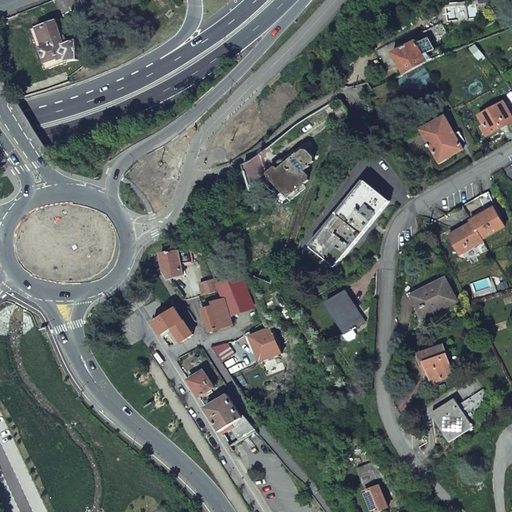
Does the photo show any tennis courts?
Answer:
No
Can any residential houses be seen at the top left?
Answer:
Yes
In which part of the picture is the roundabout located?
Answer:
left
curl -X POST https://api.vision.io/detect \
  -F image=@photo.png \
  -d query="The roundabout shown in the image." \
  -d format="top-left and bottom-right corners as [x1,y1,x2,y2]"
[0,171,136,302]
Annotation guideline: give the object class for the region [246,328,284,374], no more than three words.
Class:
house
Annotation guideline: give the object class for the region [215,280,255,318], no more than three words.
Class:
barn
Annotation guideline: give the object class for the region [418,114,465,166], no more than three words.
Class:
house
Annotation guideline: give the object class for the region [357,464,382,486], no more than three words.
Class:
building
